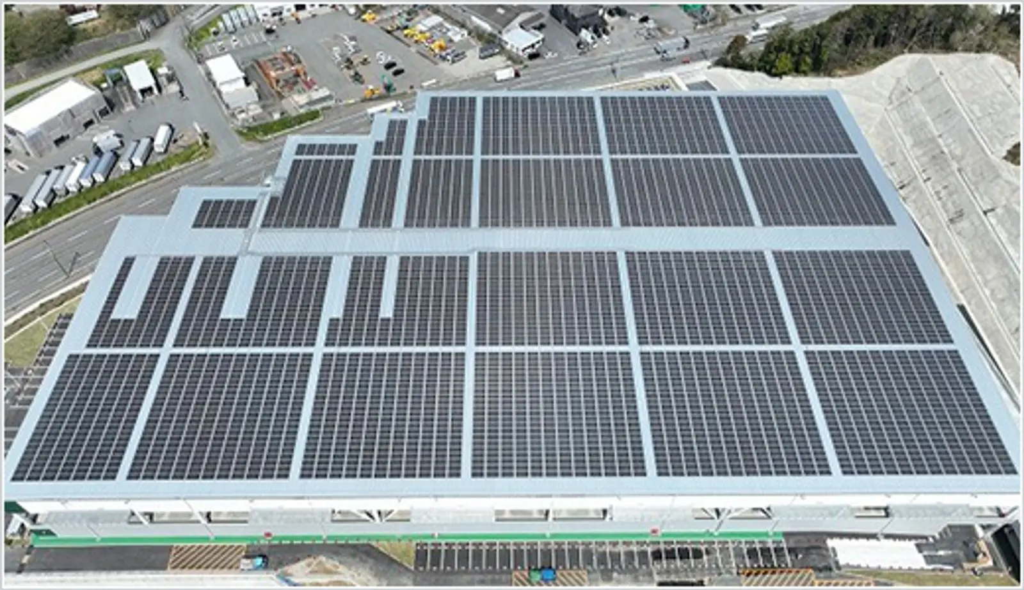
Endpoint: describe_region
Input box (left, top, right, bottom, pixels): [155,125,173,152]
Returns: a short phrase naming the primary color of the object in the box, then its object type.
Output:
white vehicle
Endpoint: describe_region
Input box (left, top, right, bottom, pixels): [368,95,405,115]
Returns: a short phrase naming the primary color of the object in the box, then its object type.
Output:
white vehicle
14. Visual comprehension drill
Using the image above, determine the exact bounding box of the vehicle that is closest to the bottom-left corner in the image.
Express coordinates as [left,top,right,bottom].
[239,555,267,570]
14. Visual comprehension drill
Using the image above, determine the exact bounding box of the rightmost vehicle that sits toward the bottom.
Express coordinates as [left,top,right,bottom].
[530,568,556,583]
